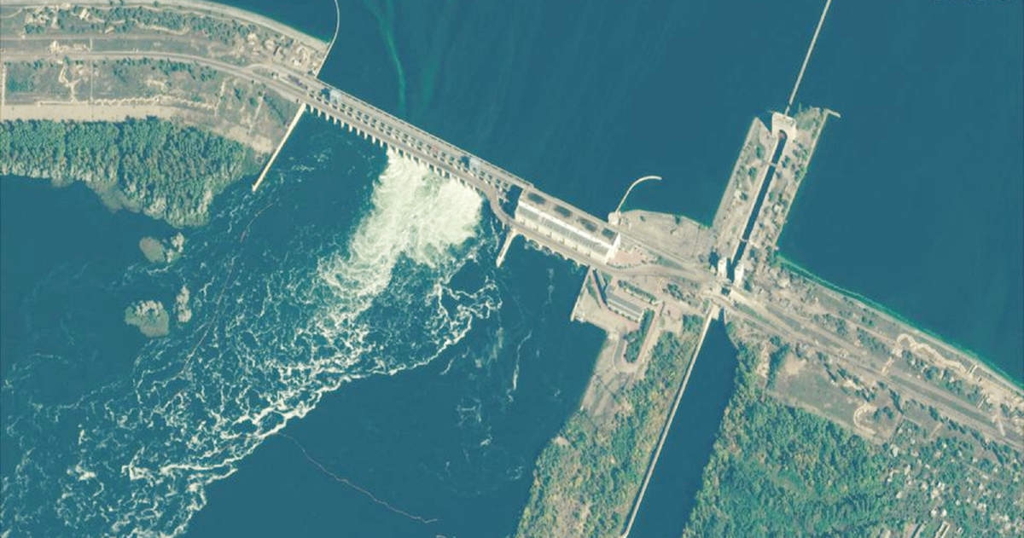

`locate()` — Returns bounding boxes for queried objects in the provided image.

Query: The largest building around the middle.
[507,180,621,271]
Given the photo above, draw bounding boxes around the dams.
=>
[300,74,600,269]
